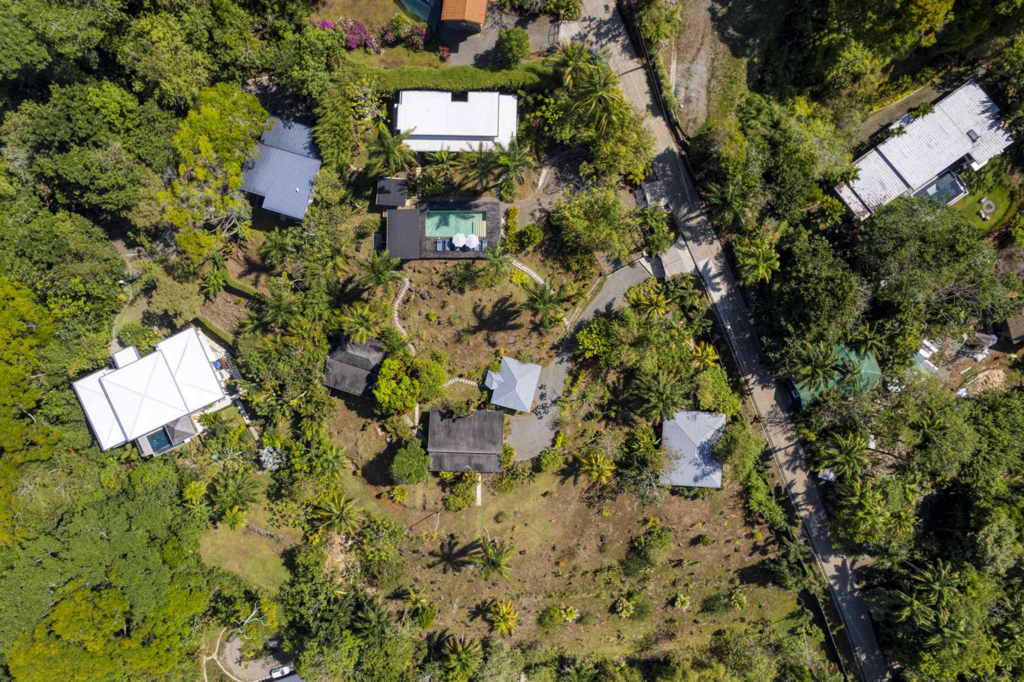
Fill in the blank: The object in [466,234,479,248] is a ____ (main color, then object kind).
white umbrella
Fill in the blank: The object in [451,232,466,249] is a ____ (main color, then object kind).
white umbrella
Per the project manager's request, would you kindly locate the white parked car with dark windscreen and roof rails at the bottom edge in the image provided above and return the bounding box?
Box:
[268,663,292,681]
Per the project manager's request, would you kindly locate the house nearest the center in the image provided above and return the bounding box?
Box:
[484,356,541,413]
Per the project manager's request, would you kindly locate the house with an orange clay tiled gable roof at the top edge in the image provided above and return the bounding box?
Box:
[441,0,487,33]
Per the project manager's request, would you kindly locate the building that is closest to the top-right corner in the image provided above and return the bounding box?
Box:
[835,80,1013,220]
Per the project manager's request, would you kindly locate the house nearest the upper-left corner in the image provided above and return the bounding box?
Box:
[243,116,321,218]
